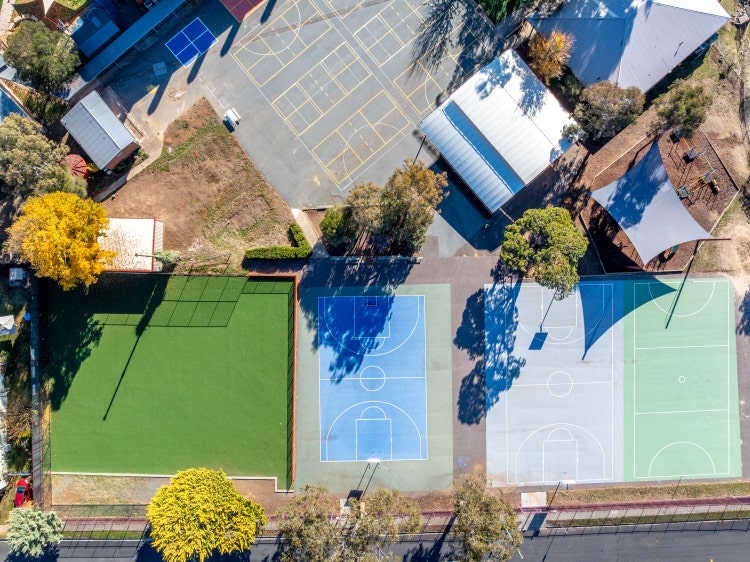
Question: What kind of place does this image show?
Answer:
sports ground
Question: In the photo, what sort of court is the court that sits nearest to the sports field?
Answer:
basketball court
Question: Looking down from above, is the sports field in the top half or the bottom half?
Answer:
bottom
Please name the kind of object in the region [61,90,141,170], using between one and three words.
building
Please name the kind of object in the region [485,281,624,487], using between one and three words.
basketball court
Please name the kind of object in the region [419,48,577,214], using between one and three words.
building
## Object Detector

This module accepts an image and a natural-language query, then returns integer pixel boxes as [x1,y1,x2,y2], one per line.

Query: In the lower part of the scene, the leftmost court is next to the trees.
[296,284,453,491]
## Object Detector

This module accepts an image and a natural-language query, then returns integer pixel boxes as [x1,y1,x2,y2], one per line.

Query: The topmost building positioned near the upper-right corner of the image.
[525,0,731,95]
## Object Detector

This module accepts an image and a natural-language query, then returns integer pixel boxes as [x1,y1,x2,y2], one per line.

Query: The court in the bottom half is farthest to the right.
[623,278,741,481]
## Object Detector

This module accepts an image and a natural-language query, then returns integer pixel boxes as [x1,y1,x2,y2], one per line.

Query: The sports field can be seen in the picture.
[47,276,296,492]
